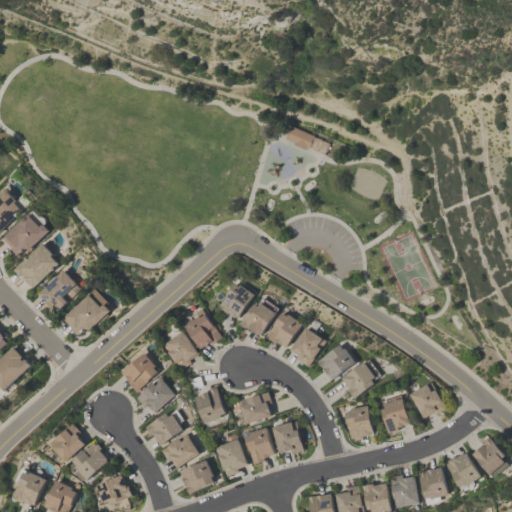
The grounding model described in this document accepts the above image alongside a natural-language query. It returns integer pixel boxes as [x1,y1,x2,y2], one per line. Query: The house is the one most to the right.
[471,440,508,477]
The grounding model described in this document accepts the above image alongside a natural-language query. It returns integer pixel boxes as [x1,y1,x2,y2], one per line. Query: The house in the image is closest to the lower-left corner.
[13,474,46,506]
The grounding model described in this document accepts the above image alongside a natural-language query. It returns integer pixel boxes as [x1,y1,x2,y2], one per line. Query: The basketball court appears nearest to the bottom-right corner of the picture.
[381,232,437,302]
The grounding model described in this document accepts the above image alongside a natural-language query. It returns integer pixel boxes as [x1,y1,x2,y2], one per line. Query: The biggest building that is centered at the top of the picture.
[287,127,315,150]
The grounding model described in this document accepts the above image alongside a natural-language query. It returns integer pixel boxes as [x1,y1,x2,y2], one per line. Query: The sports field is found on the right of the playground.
[354,167,388,197]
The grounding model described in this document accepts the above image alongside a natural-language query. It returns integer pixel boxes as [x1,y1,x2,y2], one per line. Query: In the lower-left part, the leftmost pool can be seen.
[38,458,56,476]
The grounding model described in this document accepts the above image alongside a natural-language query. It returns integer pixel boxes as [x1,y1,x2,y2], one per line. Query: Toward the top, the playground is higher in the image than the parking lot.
[256,136,321,192]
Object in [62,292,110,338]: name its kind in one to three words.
house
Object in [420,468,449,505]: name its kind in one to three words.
house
